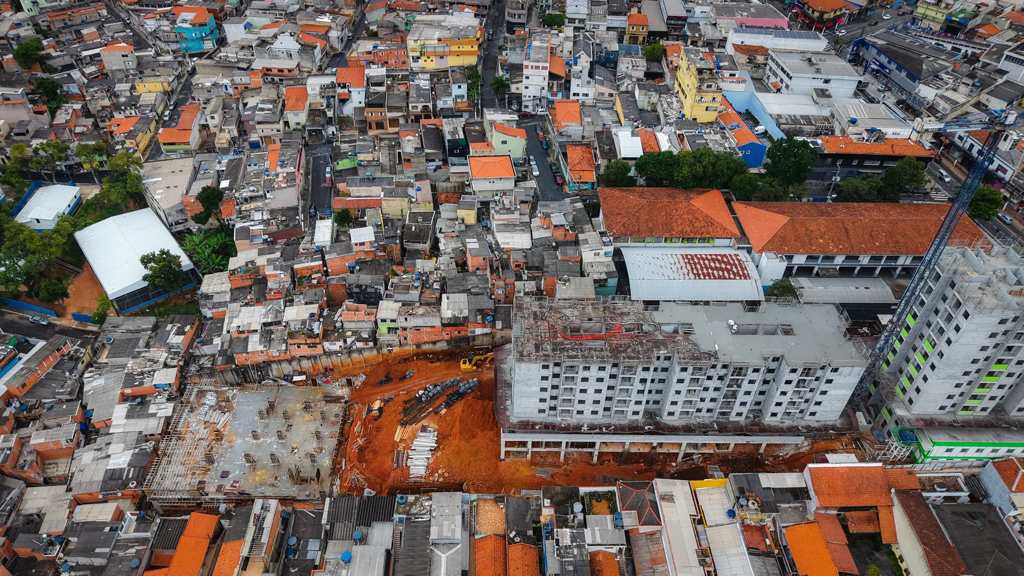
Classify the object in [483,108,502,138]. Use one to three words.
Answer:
house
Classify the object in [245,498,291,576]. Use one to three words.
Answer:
house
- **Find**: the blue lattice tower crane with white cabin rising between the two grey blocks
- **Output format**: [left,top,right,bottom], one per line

[852,84,1024,415]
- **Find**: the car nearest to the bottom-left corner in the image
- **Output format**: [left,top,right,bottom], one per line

[24,312,51,325]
